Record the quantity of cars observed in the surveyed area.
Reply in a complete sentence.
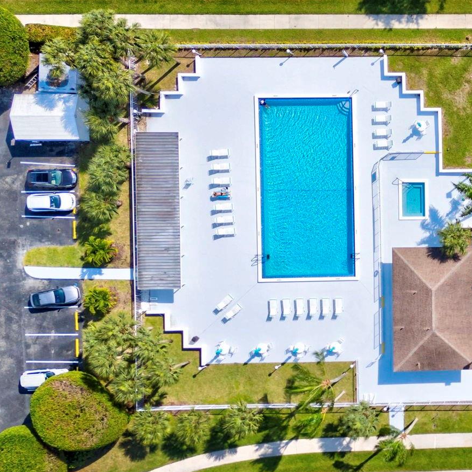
The photo contains 4 cars.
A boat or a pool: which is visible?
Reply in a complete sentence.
The image shows a pool.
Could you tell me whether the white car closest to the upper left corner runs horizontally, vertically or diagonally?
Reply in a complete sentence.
In this picture, the white car closest to the upper left corner lies horizontally.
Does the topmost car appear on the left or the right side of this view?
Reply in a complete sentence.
You can find the topmost car on the left side of the picture.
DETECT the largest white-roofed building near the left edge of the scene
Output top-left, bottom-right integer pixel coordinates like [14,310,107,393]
[9,94,94,143]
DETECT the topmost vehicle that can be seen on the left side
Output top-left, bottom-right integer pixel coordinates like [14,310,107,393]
[29,168,80,190]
